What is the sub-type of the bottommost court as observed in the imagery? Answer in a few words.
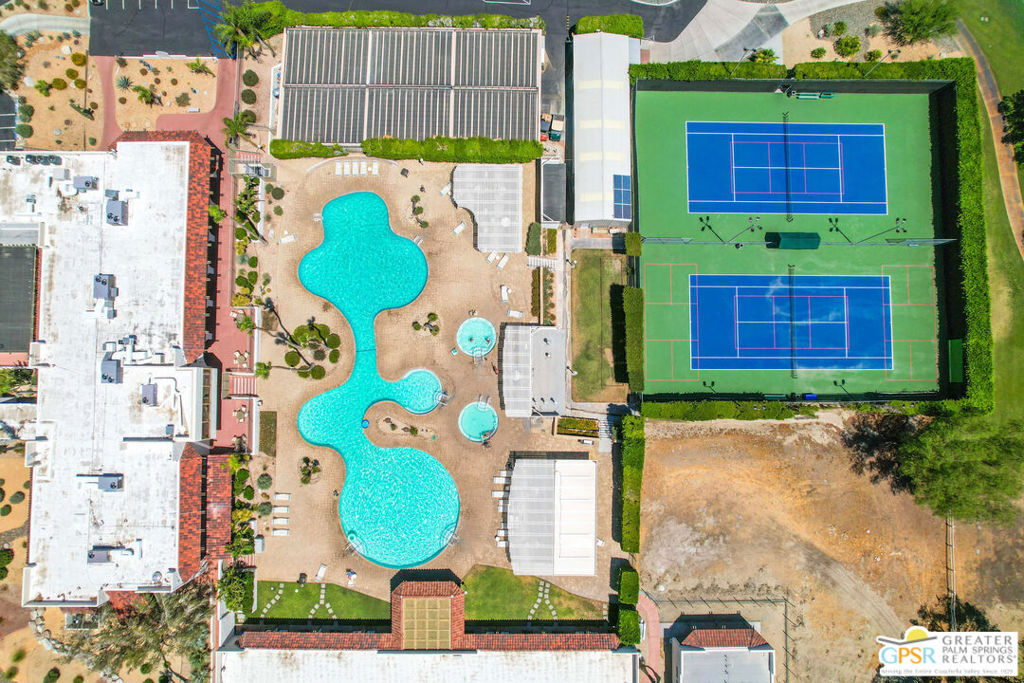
tennis court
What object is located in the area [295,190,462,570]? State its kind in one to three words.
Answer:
swimming pool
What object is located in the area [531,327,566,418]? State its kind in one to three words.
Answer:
building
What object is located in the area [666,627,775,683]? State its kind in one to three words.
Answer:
house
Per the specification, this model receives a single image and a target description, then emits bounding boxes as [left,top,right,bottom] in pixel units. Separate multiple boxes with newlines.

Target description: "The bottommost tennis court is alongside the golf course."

[640,240,946,406]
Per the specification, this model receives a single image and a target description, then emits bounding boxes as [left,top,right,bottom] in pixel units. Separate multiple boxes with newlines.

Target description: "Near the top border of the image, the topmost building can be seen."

[572,32,641,232]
